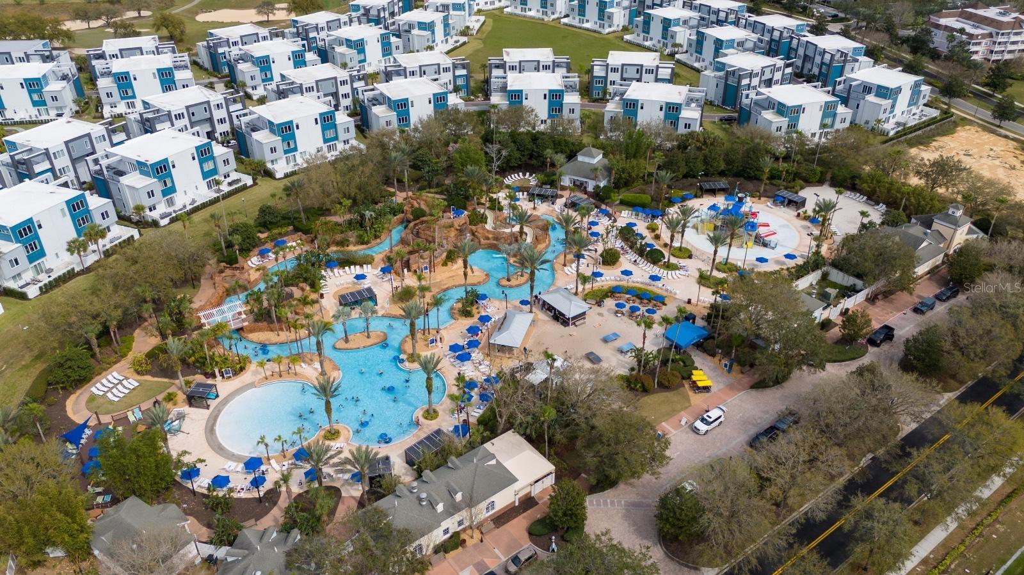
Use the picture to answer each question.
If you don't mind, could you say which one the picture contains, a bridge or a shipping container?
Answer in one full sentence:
Visible in the photo is a bridge.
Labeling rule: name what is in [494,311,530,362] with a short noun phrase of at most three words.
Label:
building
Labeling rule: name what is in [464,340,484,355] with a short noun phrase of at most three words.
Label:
umbrella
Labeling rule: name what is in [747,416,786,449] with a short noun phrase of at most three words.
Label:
car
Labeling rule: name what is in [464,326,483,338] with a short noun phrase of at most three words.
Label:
umbrella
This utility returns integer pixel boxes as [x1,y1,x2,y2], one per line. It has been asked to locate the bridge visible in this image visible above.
[191,297,255,339]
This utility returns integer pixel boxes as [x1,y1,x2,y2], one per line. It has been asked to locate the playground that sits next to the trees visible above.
[695,184,781,254]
